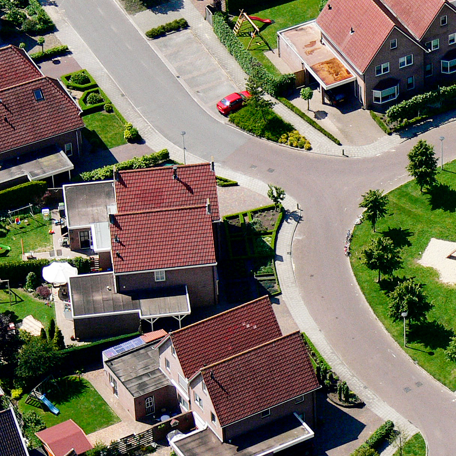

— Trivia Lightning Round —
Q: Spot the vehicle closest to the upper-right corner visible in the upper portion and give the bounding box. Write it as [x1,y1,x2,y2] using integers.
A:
[323,86,350,105]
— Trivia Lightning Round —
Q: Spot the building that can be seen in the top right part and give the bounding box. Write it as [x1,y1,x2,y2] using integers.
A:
[277,0,456,111]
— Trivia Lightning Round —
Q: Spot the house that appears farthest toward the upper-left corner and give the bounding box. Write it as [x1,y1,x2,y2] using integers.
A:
[0,30,83,187]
